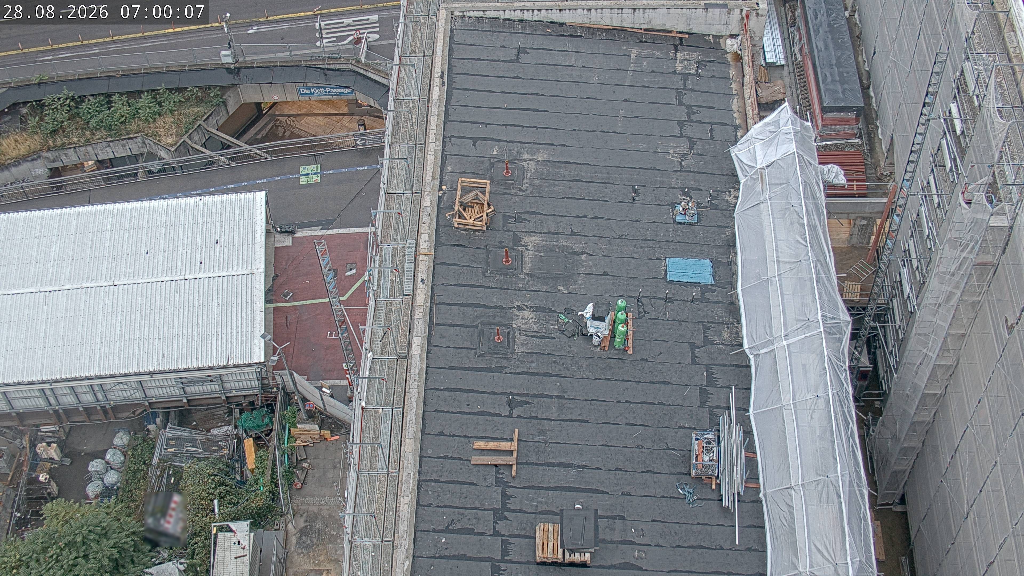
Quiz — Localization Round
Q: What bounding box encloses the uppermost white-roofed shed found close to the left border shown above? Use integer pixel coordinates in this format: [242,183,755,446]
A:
[0,191,278,427]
